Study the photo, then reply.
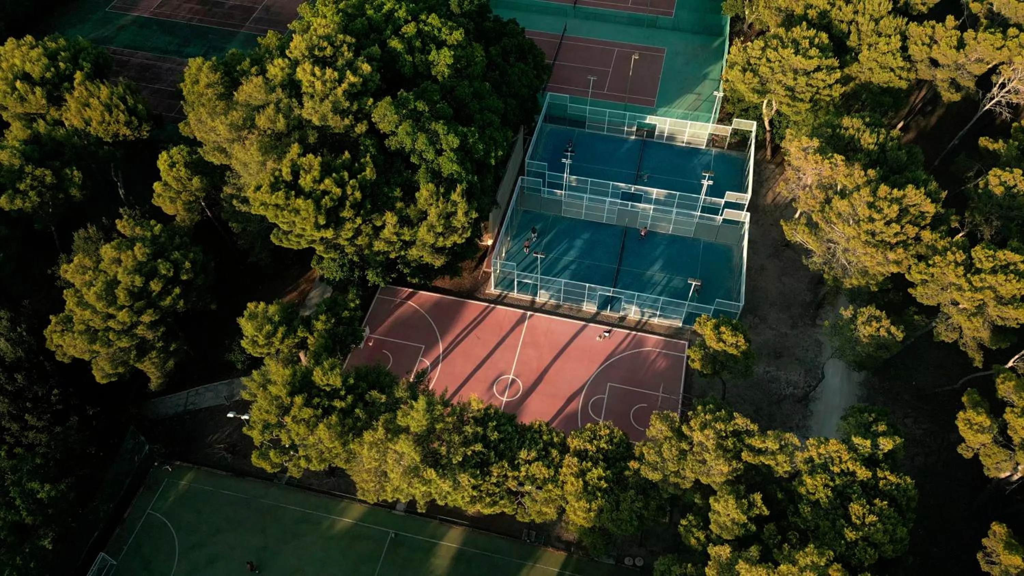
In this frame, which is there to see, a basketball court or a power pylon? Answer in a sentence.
The one in the frame is a basketball court.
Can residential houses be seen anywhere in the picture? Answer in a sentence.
No, no residential house is visible in the scene.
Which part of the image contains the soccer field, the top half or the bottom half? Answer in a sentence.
The soccer field sits in the bottom half of the picture.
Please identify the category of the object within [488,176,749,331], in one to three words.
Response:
sports court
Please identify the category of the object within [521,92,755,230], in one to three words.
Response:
sports court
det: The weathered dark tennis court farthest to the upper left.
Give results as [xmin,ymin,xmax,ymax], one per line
[27,0,349,58]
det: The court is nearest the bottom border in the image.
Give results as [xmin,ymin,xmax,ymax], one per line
[345,284,689,515]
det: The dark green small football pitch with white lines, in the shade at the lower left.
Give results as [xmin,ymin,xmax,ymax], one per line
[87,460,644,576]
